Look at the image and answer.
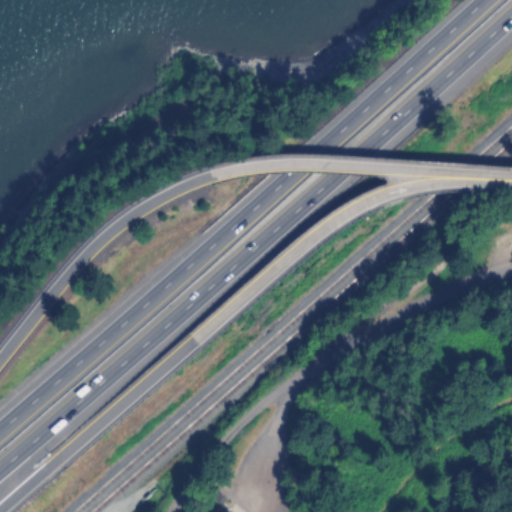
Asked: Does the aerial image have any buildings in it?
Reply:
No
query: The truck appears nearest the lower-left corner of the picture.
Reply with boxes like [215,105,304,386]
[50,412,74,435]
